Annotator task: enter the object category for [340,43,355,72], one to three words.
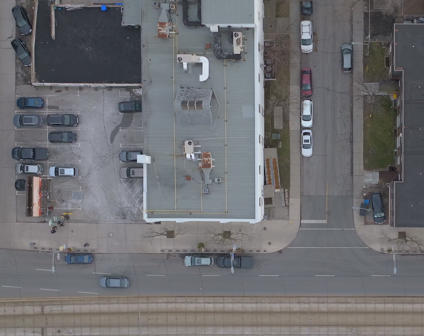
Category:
car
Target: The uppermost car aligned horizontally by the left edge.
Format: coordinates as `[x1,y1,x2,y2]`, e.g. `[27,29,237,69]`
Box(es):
[17,96,45,109]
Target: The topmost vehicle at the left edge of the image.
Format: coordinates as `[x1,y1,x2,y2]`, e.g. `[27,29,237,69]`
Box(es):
[10,4,32,36]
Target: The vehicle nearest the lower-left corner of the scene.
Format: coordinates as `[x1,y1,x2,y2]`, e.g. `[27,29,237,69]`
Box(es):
[65,252,93,266]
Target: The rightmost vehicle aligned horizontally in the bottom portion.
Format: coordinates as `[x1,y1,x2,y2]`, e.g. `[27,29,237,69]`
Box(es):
[217,255,253,270]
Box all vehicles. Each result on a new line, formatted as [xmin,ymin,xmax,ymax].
[48,129,77,144]
[300,0,313,16]
[300,129,313,156]
[15,180,26,191]
[120,149,142,163]
[9,37,31,67]
[217,255,253,270]
[300,20,313,53]
[16,161,44,176]
[119,100,142,113]
[340,43,355,72]
[46,112,78,127]
[49,164,78,179]
[185,255,214,269]
[299,98,313,128]
[14,113,44,128]
[65,252,93,266]
[120,165,143,180]
[12,145,49,161]
[10,4,32,36]
[299,68,313,96]
[17,96,45,109]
